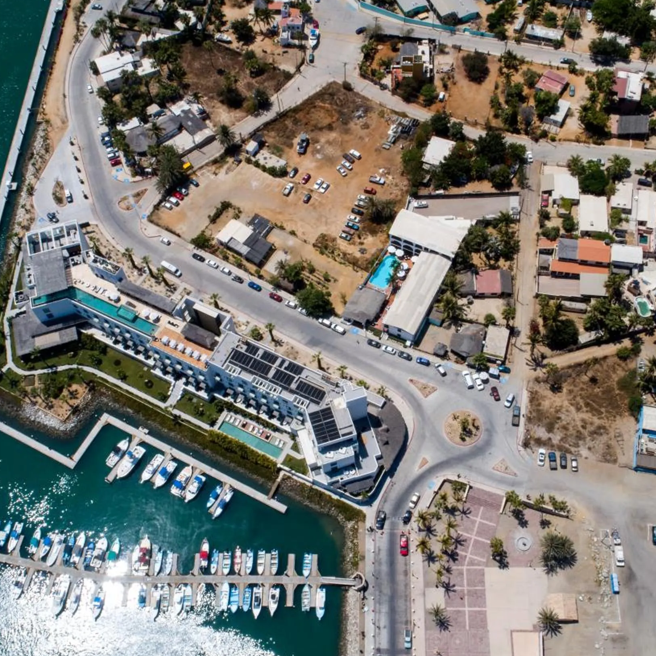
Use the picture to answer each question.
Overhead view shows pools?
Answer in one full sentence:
Yes, there is a pool in the image.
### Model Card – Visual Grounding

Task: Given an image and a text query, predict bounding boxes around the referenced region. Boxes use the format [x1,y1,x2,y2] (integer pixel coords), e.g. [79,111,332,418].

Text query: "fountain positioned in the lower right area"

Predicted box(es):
[514,534,533,553]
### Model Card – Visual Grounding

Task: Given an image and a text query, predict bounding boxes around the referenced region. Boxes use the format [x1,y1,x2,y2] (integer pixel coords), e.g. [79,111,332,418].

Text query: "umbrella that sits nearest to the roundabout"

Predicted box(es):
[477,370,491,383]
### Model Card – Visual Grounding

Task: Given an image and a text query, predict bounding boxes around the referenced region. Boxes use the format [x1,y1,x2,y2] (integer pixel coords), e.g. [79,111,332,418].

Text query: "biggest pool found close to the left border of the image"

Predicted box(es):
[32,288,160,336]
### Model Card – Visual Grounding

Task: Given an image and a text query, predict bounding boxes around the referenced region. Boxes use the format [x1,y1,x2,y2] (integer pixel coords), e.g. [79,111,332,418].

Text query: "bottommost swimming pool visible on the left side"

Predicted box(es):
[217,419,284,460]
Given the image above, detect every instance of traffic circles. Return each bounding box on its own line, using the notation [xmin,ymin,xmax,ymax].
[444,409,483,446]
